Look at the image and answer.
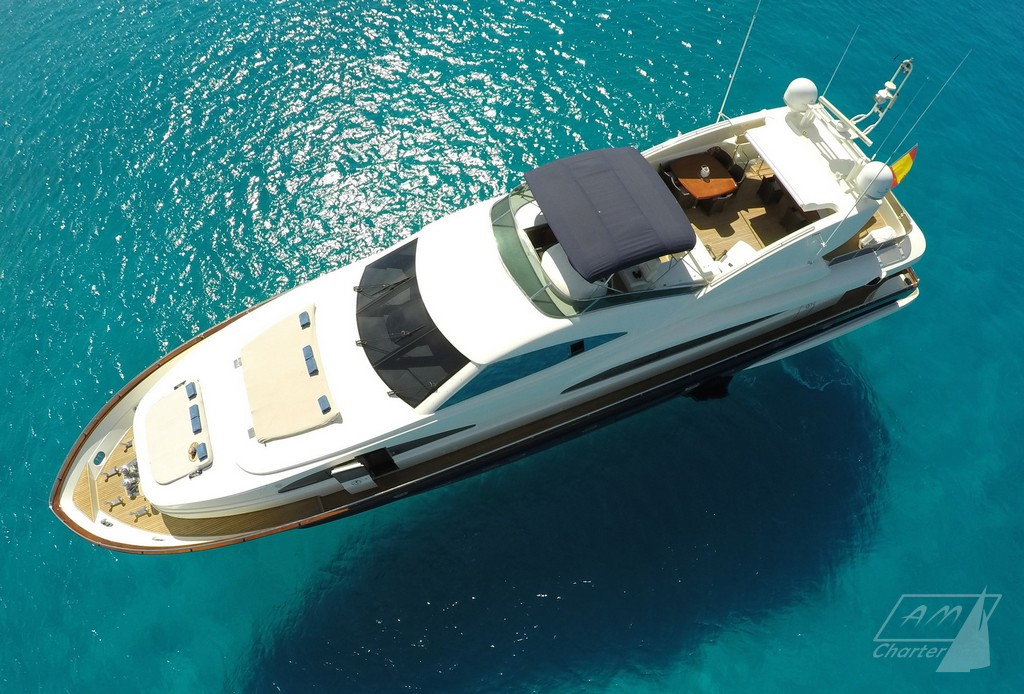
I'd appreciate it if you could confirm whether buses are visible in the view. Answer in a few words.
No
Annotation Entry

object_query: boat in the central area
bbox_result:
[48,0,970,557]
